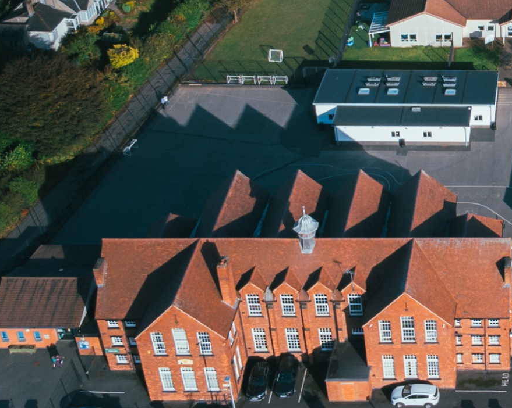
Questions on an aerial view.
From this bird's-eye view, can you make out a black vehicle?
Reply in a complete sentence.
Yes, the frame does contain a black vehicle.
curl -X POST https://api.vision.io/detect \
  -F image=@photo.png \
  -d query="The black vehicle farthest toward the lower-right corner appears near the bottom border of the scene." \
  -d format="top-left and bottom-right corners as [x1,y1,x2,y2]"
[271,355,299,394]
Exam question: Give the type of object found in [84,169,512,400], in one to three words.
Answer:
building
